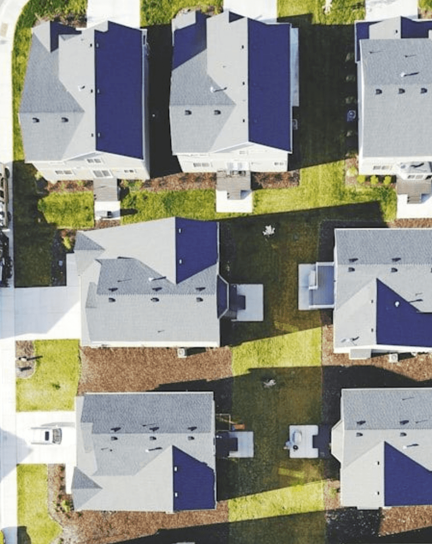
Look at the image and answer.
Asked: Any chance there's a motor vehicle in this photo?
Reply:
Yes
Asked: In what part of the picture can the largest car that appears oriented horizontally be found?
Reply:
bottom left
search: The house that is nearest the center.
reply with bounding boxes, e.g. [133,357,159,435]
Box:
[74,216,230,350]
